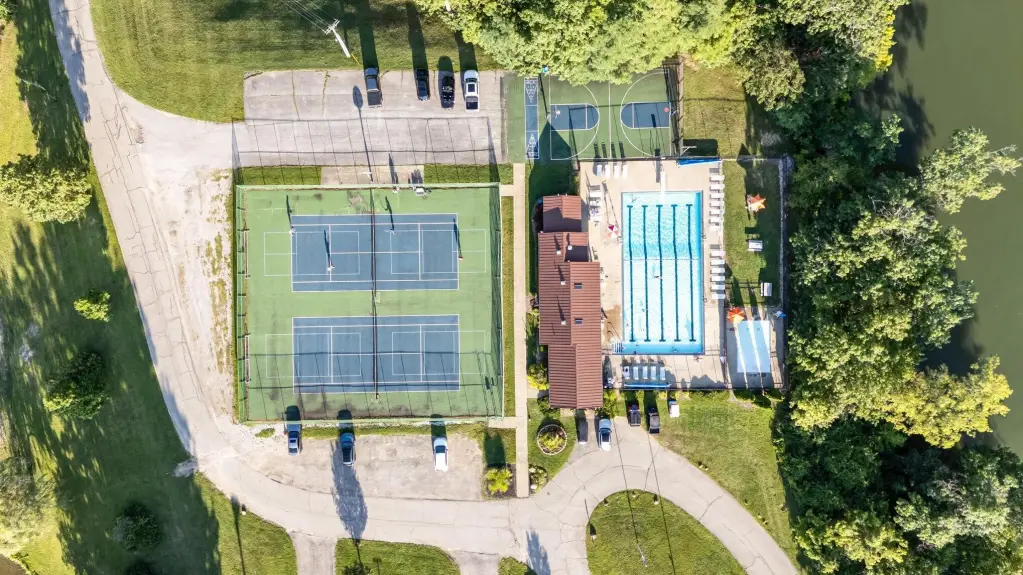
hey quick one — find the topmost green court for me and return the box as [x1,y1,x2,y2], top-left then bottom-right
[507,66,680,160]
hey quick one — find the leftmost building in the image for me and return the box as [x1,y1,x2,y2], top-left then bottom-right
[537,194,603,411]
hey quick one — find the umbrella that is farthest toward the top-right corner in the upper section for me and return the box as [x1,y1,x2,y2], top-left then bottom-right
[746,195,766,215]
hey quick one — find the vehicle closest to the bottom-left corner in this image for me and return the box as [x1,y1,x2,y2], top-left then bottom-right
[286,422,303,455]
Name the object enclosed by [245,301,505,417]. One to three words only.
tennis court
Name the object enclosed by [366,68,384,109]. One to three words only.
vehicle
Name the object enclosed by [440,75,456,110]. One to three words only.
car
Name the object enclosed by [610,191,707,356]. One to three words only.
swimming pool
